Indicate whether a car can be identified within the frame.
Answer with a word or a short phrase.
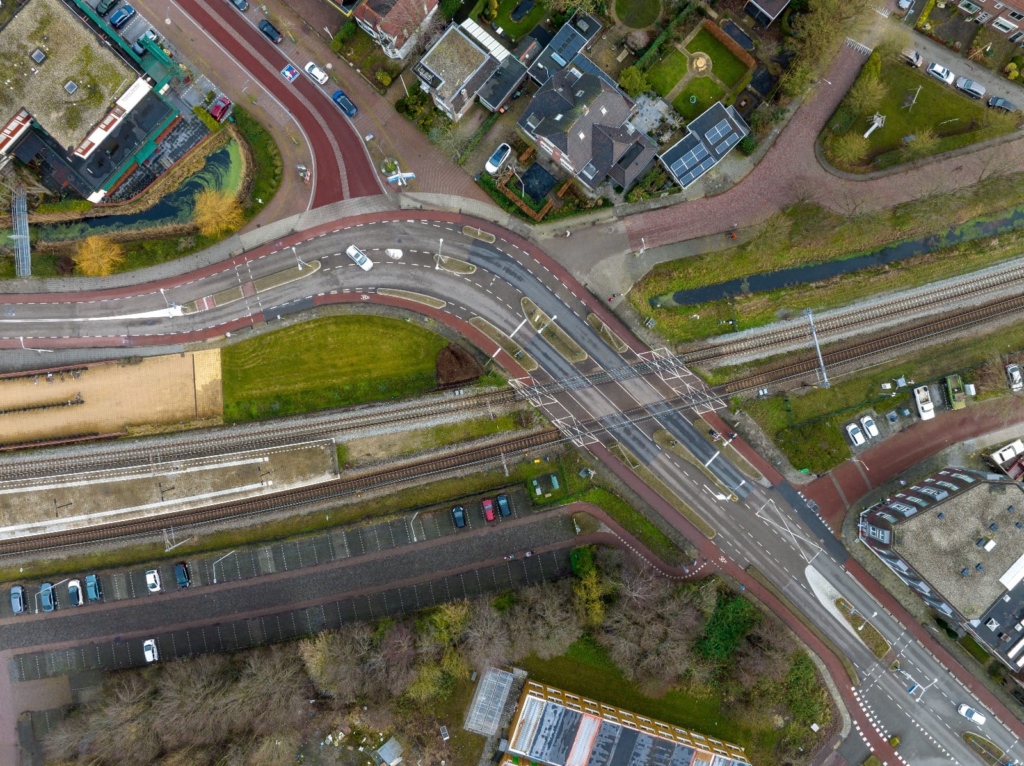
Yes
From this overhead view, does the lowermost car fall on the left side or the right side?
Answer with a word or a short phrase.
right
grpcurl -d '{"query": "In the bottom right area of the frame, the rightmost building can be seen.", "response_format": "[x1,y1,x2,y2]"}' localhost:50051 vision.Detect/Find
[851,472,1024,691]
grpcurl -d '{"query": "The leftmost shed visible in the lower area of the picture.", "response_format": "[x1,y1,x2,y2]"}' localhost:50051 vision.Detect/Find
[377,729,405,766]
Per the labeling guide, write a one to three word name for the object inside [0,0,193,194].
building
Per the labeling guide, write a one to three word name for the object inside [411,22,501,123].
house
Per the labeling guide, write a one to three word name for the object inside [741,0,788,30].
house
